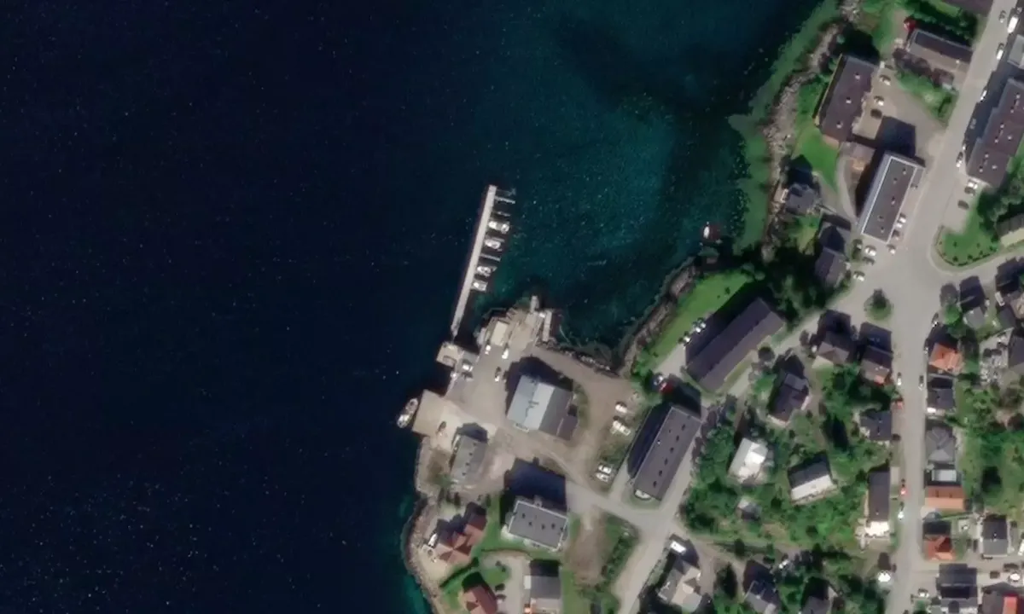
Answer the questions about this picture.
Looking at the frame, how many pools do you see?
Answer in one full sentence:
The picture shows no pools.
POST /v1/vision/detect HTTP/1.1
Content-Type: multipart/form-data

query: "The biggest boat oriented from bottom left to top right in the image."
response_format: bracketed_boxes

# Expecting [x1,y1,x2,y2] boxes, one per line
[400,399,419,426]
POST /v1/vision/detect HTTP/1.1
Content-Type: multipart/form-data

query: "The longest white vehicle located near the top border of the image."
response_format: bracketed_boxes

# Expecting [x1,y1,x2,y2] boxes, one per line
[1008,15,1020,35]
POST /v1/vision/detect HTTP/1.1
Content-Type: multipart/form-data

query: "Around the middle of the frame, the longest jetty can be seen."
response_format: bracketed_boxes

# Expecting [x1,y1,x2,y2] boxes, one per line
[452,185,515,334]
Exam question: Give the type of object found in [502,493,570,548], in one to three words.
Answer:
building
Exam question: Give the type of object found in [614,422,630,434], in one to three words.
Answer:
vehicle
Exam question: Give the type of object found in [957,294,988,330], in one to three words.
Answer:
house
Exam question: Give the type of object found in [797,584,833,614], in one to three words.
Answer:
house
